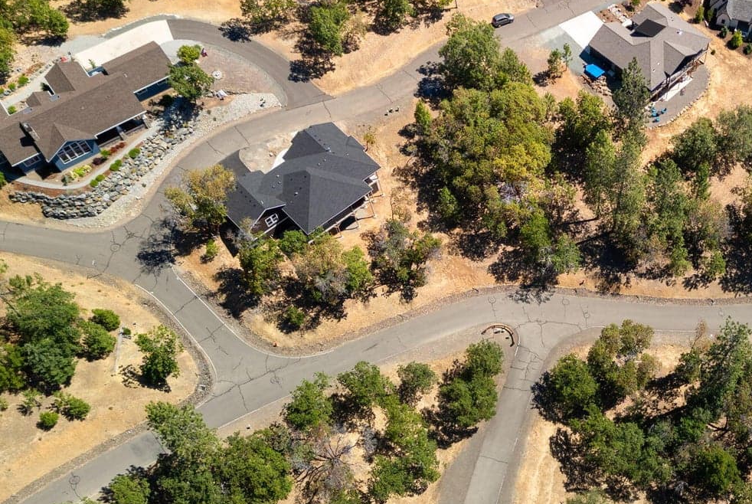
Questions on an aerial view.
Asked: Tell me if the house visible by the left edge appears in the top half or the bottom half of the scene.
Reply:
top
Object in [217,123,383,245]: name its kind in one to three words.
house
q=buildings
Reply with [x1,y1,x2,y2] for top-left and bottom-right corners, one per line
[0,44,171,173]
[589,3,712,105]
[217,123,383,245]
[709,0,752,37]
